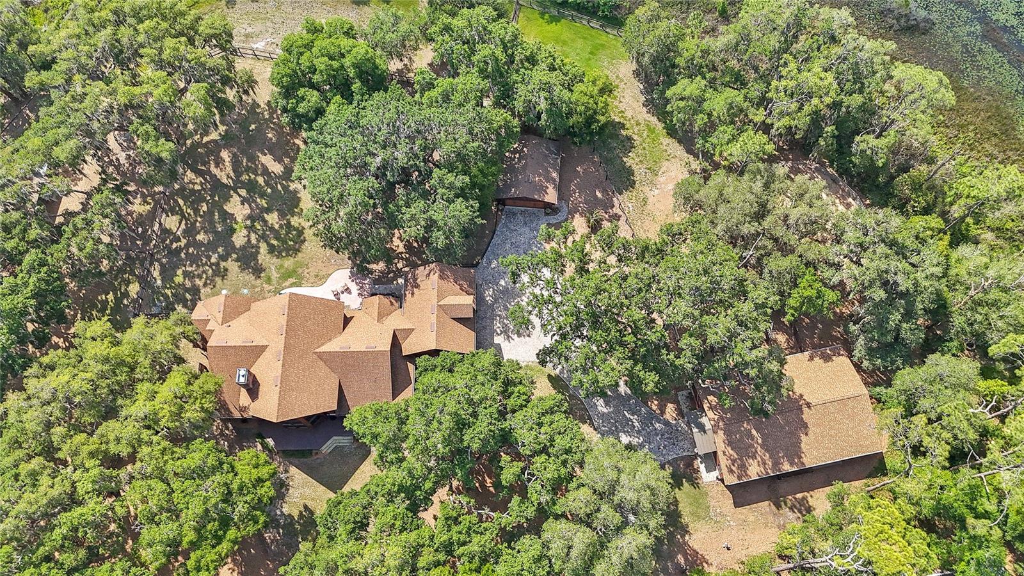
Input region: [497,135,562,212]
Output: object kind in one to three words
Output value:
building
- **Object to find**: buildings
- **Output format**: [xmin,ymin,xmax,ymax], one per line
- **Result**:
[497,135,562,212]
[192,264,477,428]
[695,345,882,486]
